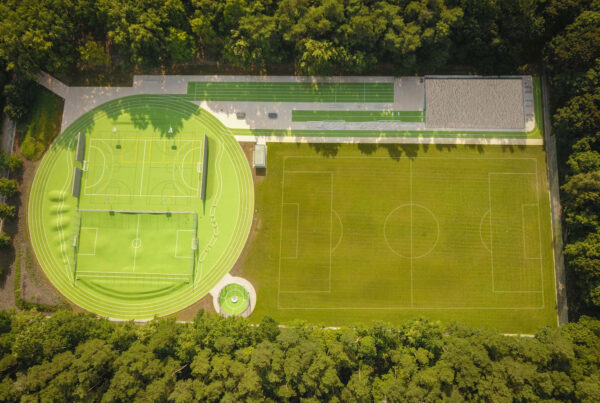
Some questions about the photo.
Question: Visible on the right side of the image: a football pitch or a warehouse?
football pitch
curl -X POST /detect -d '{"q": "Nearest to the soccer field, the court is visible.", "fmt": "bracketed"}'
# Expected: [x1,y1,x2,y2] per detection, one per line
[220,284,250,313]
